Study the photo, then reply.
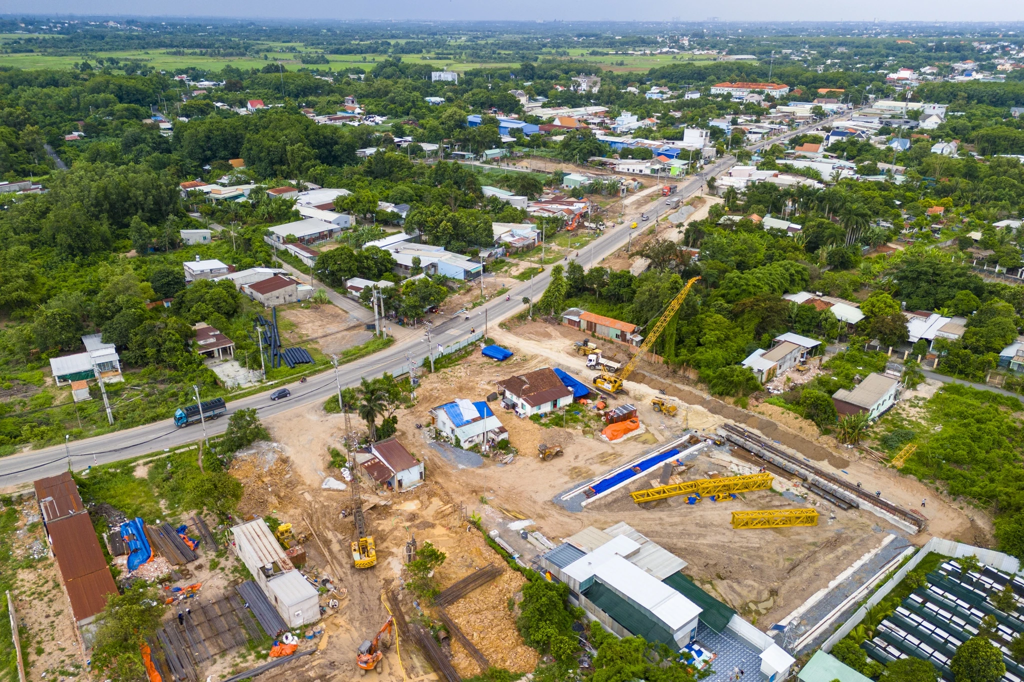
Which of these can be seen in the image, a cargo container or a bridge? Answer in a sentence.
The one in the frame is a cargo container.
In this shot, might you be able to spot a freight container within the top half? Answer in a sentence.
No, within the top half there is no freight container.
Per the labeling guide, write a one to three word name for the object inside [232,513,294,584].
building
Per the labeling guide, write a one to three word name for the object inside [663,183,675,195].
vehicle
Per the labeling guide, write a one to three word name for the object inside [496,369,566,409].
house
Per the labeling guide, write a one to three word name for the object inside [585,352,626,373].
truck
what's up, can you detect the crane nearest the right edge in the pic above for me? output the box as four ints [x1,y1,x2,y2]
[590,279,707,400]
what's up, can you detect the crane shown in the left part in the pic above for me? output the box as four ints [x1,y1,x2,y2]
[342,404,378,567]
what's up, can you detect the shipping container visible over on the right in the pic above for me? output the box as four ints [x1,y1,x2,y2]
[605,402,639,427]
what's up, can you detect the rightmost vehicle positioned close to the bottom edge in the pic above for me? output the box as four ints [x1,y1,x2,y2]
[352,613,395,681]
